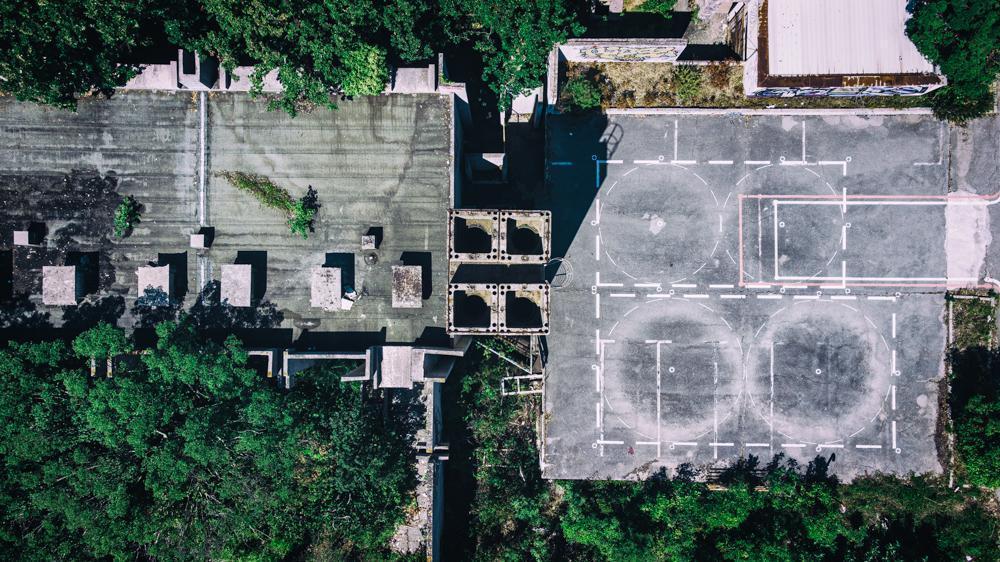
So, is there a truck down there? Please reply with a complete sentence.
No, I find no truck anywhere in the image.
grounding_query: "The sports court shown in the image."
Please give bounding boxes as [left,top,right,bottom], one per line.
[535,110,1000,481]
